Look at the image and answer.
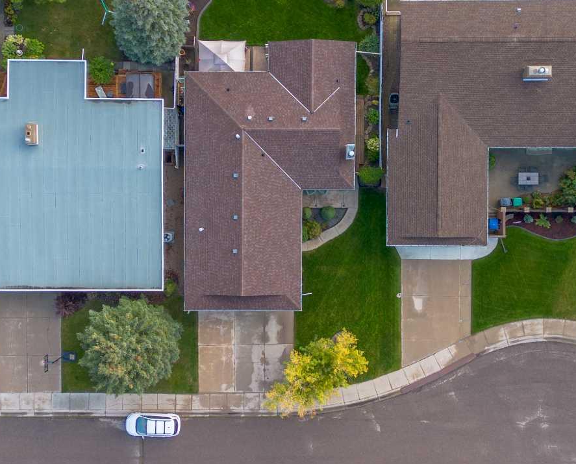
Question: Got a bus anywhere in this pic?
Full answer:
No, no bus is visible in the scene.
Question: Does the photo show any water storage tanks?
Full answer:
No, this view has no water storage tank in it.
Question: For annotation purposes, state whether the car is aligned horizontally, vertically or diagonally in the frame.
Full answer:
In this picture, the car is oriented horizontally.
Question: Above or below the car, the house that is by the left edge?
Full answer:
In the image, the house that is by the left edge sits above the car.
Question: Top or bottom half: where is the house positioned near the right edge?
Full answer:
The top half of the photo is where the house positioned near the right edge is.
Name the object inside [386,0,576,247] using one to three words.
house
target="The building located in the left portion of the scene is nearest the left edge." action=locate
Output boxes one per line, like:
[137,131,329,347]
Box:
[0,48,164,292]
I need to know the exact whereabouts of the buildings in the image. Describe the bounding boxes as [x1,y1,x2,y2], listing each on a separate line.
[0,48,164,292]
[386,0,576,247]
[184,39,357,313]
